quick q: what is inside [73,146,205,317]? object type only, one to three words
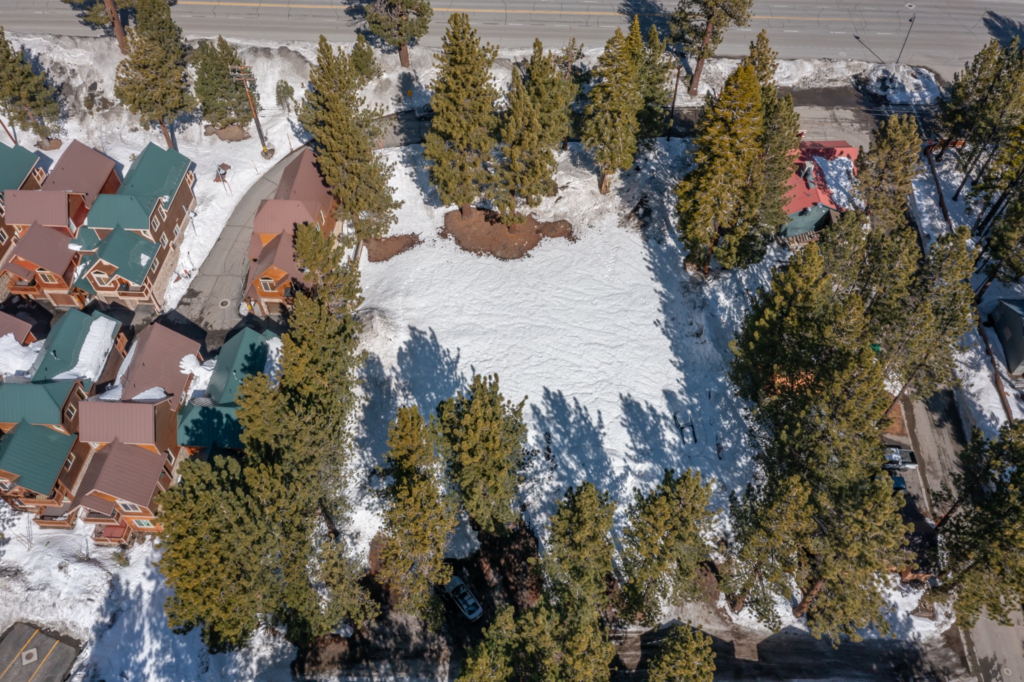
house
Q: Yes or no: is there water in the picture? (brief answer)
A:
No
